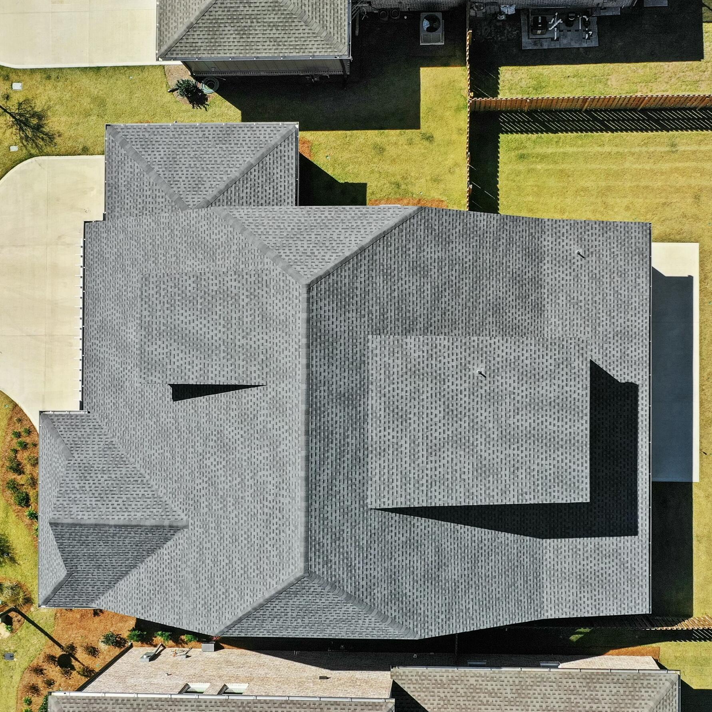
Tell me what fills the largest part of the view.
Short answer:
buildings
